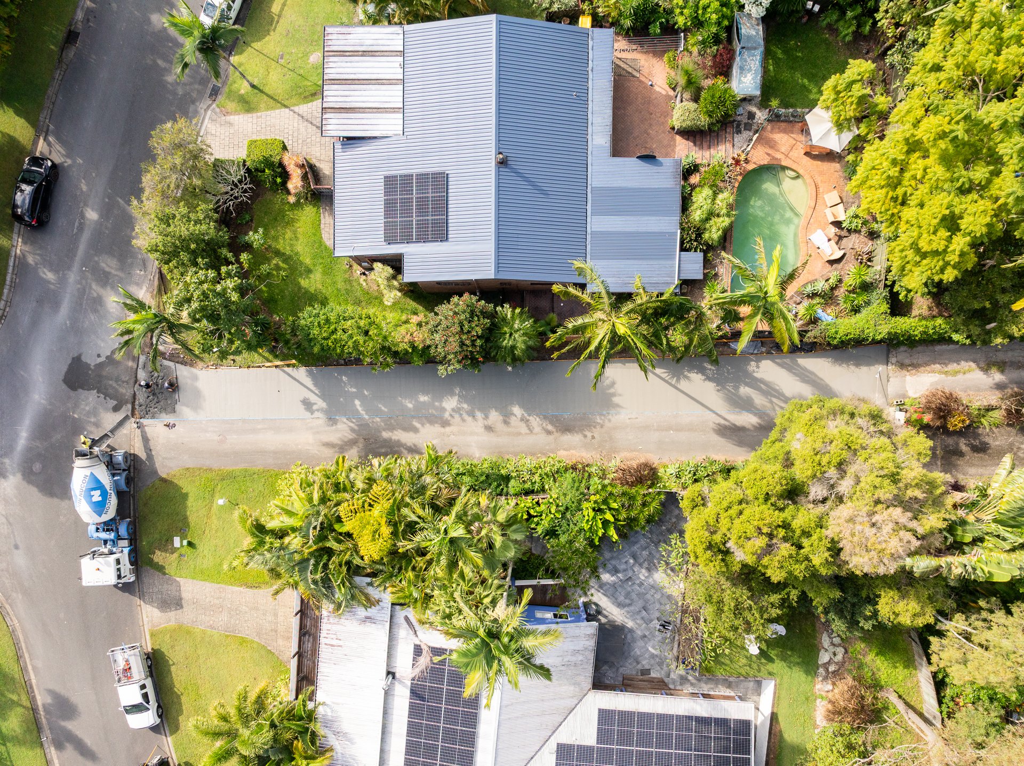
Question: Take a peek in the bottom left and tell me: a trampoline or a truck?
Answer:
truck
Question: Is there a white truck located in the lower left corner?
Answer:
Yes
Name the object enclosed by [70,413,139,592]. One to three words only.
truck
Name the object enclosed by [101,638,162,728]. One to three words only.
truck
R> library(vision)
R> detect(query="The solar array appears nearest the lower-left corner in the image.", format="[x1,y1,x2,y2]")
[403,644,481,766]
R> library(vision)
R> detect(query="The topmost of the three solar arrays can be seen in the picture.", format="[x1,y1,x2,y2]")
[381,170,448,241]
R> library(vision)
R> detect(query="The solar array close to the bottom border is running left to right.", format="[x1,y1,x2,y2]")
[552,711,750,766]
